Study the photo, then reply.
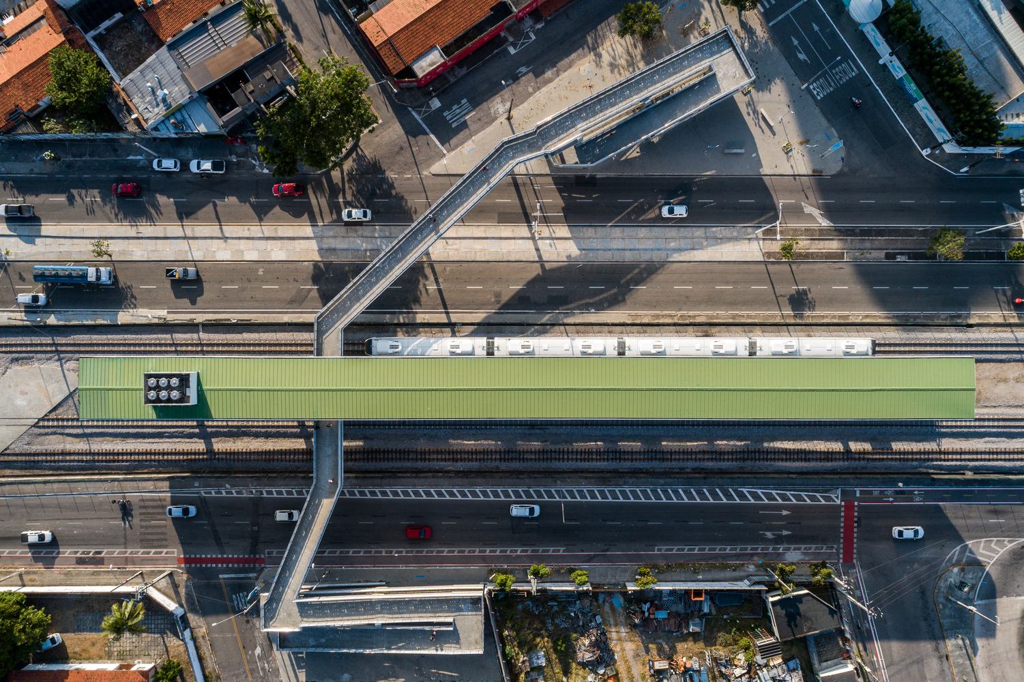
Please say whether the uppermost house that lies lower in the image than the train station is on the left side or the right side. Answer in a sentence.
You can find the uppermost house that lies lower in the image than the train station on the right side of the picture.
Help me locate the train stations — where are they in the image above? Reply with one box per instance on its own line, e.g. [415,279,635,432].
[77,356,978,421]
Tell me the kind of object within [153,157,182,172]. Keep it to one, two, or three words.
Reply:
car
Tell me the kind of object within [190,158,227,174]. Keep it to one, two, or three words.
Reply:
vehicle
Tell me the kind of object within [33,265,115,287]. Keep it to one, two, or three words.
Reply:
truck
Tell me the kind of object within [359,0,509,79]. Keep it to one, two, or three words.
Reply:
house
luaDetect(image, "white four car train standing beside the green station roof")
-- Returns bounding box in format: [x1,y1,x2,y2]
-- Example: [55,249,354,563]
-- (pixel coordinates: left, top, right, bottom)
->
[372,339,871,356]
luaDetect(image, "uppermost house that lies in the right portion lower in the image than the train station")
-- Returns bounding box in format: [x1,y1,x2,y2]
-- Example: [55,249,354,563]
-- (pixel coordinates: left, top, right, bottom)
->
[760,583,842,642]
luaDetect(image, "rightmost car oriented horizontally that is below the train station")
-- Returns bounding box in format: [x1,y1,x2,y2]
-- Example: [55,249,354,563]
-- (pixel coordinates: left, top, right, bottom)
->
[890,525,923,540]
